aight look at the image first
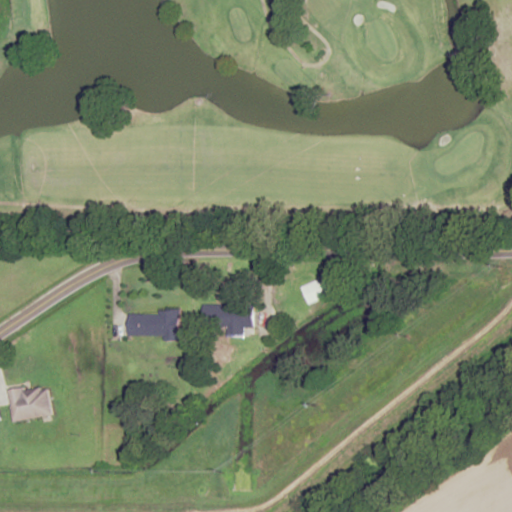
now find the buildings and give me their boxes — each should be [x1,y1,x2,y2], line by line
[6,382,52,422]
[301,280,322,306]
[202,304,256,338]
[126,308,180,340]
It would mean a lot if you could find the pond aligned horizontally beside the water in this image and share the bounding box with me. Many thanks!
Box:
[0,0,482,149]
